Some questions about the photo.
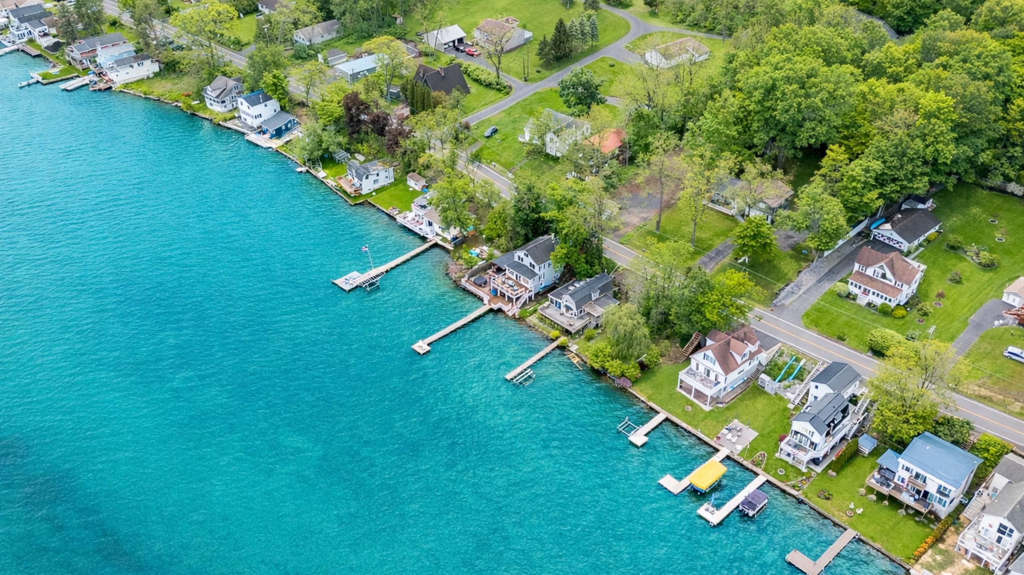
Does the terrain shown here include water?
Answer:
Yes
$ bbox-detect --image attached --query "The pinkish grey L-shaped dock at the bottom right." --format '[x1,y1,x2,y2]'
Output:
[784,531,854,575]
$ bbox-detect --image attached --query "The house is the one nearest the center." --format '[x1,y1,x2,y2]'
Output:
[462,230,564,318]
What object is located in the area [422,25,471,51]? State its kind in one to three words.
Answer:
building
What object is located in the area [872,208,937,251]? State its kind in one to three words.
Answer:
building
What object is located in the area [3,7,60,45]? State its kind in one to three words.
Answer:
house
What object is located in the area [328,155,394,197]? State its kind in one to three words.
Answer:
house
